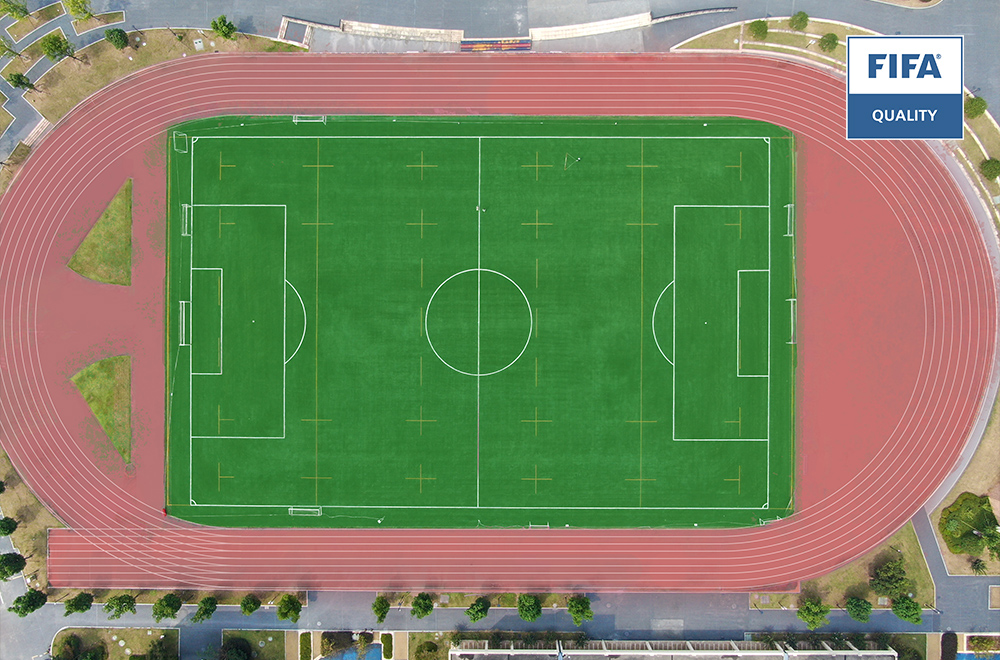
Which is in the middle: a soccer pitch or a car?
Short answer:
soccer pitch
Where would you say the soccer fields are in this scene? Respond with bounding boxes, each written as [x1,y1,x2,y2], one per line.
[165,115,795,528]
